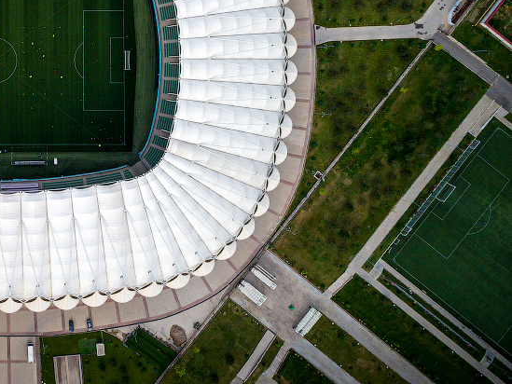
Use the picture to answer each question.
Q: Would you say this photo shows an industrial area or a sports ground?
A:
sports ground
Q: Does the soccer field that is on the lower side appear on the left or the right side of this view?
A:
right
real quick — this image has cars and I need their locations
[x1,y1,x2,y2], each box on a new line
[69,323,74,334]
[87,321,92,333]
